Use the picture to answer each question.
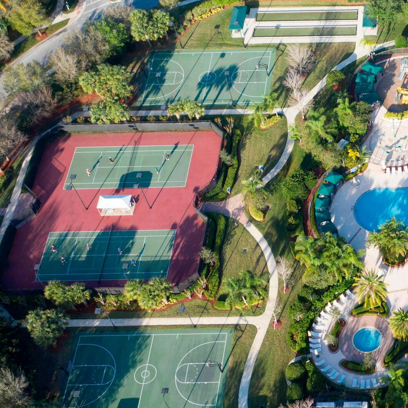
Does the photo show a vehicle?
No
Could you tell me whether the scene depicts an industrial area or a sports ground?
sports ground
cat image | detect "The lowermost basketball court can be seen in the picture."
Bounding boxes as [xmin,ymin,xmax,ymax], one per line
[55,328,233,408]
